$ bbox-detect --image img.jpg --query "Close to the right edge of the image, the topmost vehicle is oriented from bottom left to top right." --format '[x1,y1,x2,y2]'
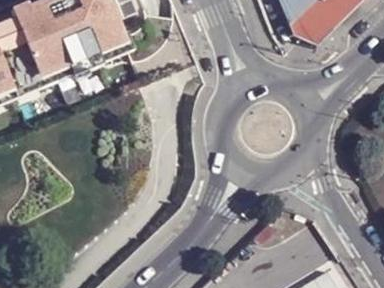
[350,20,370,38]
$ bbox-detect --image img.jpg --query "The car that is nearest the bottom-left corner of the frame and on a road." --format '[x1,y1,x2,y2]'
[136,266,157,285]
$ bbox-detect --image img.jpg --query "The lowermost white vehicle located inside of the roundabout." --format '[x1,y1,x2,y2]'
[212,152,224,174]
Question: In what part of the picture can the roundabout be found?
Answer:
right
